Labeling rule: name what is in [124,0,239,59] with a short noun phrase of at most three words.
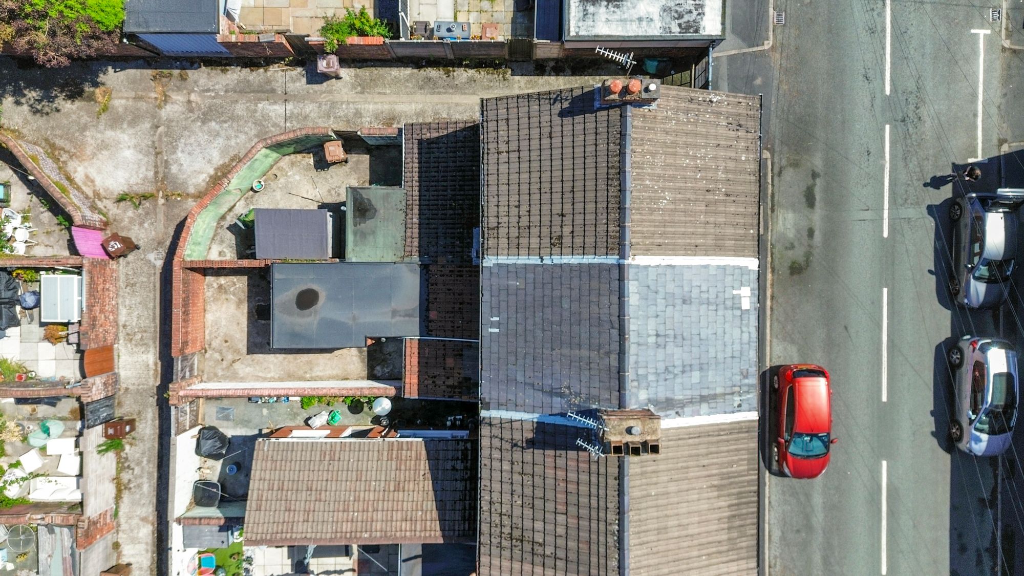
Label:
shed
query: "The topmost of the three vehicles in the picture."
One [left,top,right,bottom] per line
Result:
[952,194,1024,313]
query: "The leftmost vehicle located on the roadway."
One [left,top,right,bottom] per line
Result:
[776,366,841,479]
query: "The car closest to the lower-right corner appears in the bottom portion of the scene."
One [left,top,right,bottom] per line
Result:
[952,336,1024,459]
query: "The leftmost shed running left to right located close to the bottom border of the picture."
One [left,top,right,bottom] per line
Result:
[183,525,242,548]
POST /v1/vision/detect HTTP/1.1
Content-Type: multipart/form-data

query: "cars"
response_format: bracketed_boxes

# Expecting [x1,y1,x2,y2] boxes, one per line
[952,336,1024,459]
[776,366,841,479]
[952,194,1024,313]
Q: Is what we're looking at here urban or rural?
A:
urban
